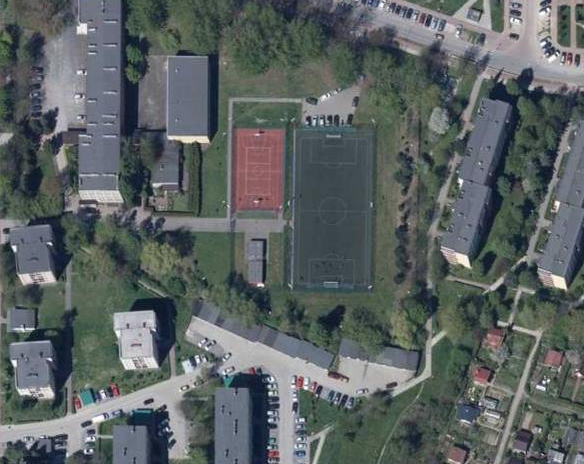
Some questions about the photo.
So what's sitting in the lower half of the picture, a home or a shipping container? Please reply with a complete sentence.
Looking in the lower half of the picture, you will find a home.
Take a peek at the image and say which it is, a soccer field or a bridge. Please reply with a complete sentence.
The one in the frame is a soccer field.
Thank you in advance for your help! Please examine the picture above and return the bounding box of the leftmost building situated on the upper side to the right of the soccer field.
[440,96,511,267]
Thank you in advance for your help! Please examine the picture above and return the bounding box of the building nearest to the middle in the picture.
[247,240,265,284]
